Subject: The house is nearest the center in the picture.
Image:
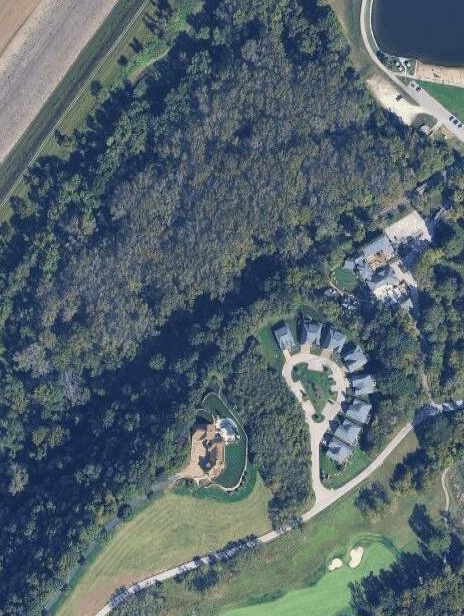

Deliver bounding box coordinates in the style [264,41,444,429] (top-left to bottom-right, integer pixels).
[273,320,294,350]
